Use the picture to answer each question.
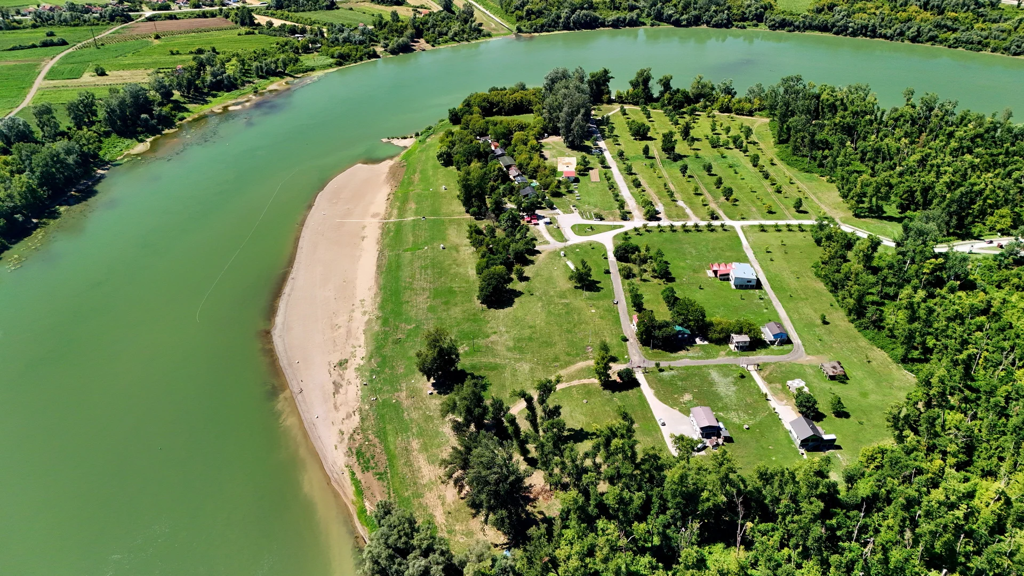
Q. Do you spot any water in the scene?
Yes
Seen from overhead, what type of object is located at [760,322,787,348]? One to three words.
house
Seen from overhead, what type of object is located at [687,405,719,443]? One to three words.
house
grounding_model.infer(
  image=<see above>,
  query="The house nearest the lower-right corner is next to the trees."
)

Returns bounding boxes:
[788,417,836,455]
